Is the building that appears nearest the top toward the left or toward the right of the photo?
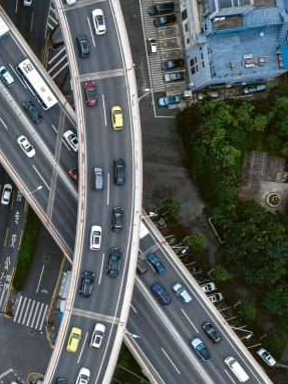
right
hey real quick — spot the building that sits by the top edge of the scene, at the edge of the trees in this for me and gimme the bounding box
[178,0,288,89]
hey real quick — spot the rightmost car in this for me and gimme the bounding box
[255,347,276,366]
